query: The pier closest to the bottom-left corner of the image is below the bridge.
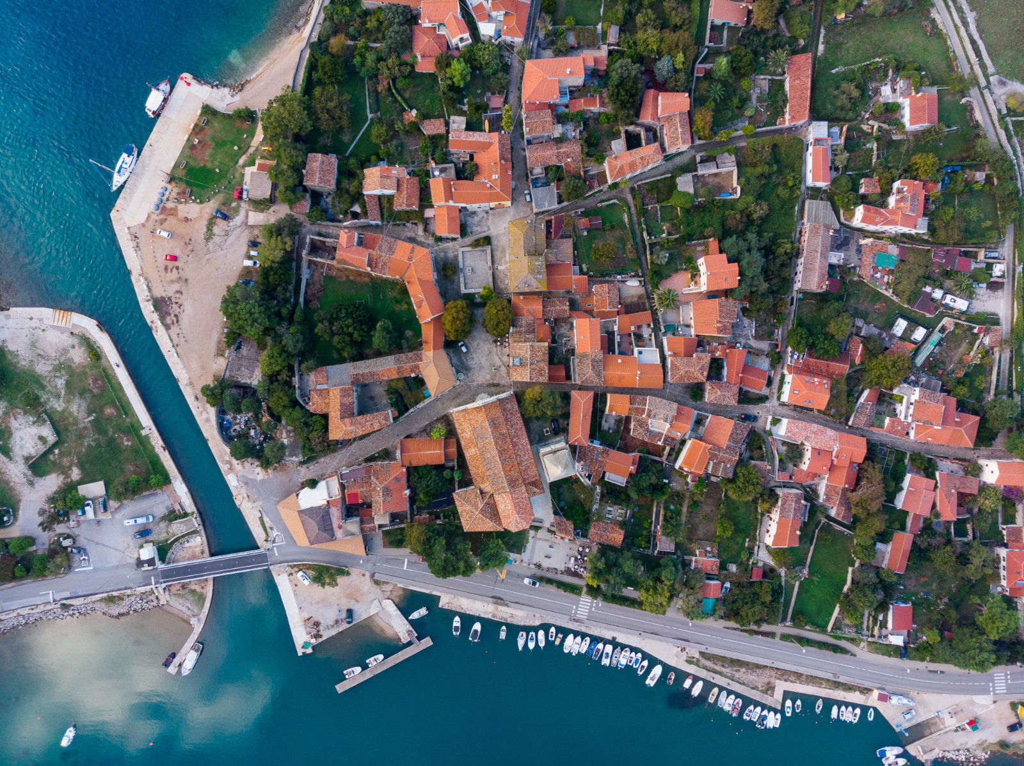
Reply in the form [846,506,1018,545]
[167,578,214,675]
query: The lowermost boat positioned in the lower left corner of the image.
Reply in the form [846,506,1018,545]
[62,723,78,746]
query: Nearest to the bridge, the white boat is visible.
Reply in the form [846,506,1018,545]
[184,642,203,675]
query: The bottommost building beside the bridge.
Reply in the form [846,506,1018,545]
[137,545,161,568]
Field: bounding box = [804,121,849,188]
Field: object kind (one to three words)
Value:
house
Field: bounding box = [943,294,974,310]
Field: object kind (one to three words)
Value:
camper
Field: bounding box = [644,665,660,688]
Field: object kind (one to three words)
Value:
boat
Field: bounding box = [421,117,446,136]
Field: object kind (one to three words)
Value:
shed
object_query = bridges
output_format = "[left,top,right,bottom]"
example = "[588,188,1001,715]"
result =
[157,549,272,585]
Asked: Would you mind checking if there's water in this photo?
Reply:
Yes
